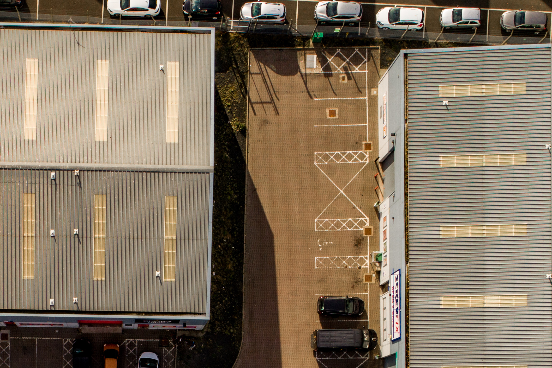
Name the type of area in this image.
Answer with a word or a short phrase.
industrial area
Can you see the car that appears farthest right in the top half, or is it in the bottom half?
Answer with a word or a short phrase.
top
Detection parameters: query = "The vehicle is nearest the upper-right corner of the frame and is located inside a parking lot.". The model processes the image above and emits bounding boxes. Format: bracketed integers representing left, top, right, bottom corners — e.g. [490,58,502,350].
[501,8,550,34]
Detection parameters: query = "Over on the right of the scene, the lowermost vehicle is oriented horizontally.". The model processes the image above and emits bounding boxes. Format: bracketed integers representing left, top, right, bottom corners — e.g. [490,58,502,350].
[311,327,377,353]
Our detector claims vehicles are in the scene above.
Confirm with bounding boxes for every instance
[501,8,550,34]
[182,0,222,19]
[107,0,160,18]
[71,340,93,368]
[315,1,364,25]
[317,293,365,317]
[137,352,161,368]
[440,4,484,28]
[100,343,121,368]
[373,5,420,31]
[240,0,287,24]
[311,327,377,353]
